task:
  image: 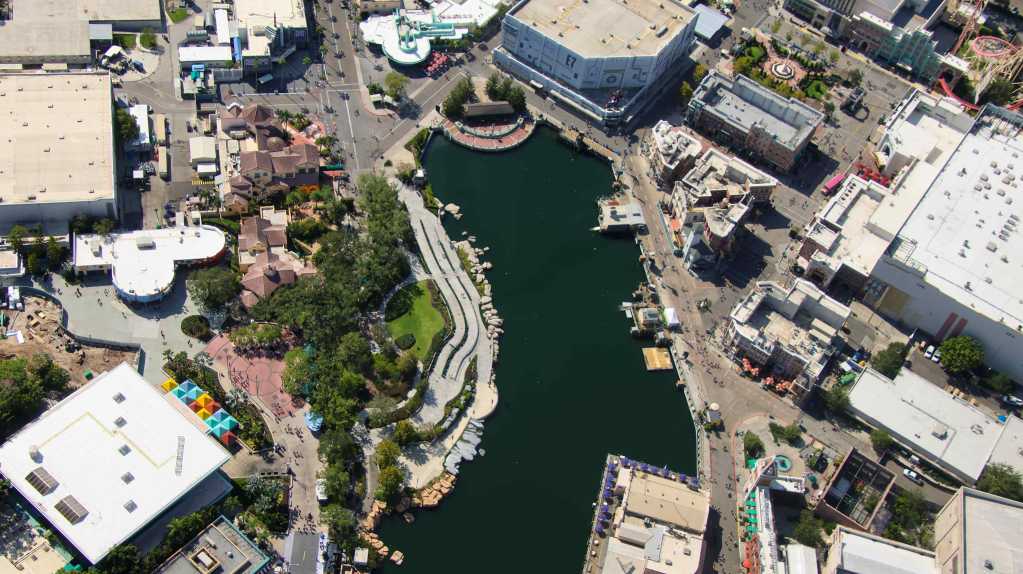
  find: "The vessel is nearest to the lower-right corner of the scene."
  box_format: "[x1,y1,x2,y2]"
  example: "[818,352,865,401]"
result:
[642,348,671,374]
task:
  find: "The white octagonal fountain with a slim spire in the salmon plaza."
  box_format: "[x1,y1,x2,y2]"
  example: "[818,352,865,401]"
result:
[771,53,797,77]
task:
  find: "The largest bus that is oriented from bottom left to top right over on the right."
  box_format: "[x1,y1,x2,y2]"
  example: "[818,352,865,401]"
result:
[820,173,847,196]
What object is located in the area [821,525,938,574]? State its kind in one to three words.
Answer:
building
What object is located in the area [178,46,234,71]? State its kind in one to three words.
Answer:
shed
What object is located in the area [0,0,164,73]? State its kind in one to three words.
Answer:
building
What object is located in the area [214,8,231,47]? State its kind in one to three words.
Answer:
shed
